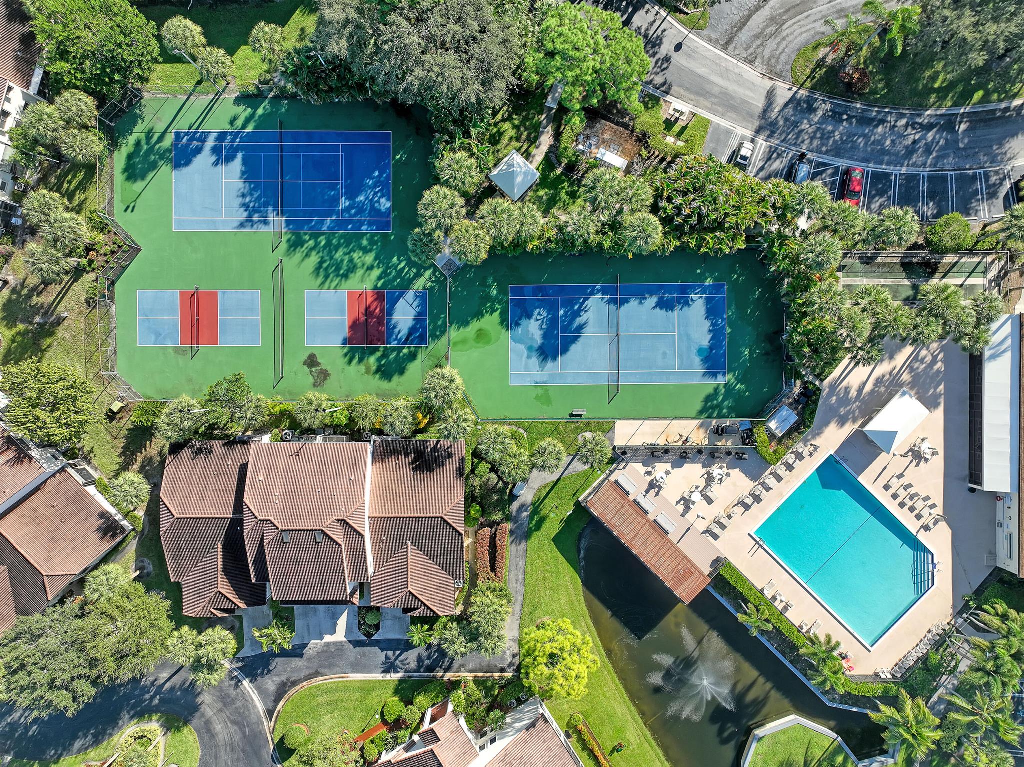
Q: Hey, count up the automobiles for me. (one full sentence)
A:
The picture shows 3 automobiles.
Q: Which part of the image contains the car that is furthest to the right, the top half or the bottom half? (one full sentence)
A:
You can find the car that is furthest to the right in the top half.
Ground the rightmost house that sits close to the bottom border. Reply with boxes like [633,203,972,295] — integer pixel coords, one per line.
[458,697,584,767]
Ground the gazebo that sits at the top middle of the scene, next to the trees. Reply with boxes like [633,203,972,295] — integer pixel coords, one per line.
[488,151,540,206]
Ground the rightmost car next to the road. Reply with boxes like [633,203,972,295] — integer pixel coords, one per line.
[842,164,866,207]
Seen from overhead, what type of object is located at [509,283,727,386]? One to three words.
tennis court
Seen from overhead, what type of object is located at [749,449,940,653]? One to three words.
swimming pool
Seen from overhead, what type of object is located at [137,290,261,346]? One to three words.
sports court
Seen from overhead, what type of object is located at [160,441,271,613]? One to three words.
house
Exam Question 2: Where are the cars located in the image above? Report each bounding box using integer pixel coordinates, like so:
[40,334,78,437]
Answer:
[733,136,757,176]
[789,154,817,186]
[842,164,866,207]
